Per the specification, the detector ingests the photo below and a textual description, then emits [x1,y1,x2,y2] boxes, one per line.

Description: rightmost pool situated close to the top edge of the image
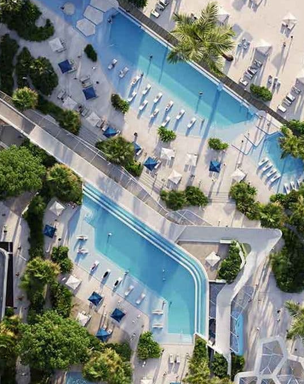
[91,6,261,147]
